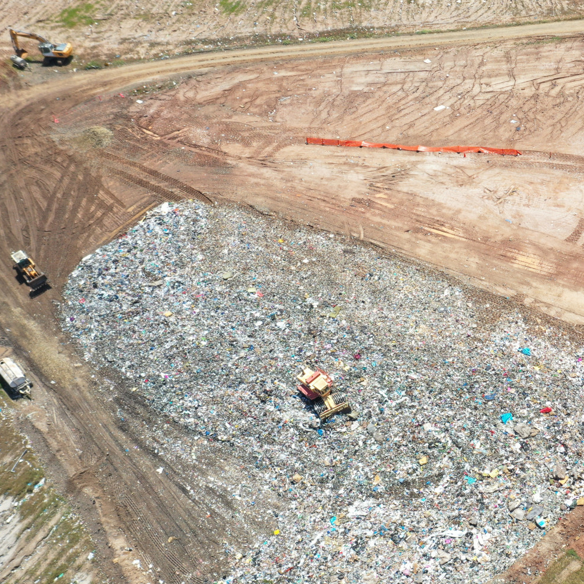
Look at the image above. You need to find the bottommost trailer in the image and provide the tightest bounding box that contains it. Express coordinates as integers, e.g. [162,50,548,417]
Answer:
[0,358,33,401]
